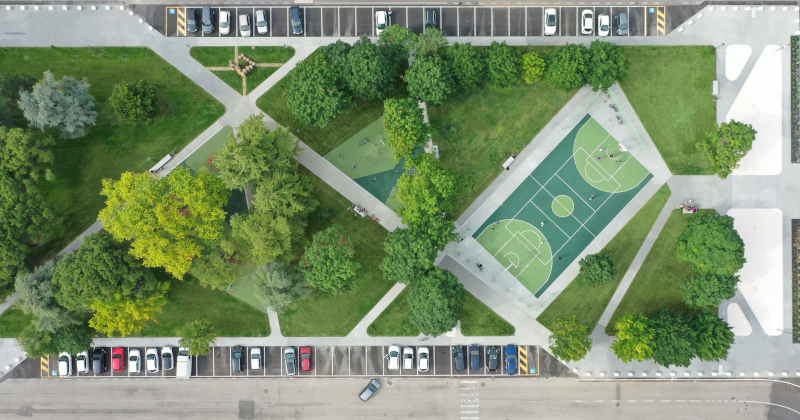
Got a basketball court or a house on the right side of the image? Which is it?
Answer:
basketball court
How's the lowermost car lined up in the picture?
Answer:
diagonally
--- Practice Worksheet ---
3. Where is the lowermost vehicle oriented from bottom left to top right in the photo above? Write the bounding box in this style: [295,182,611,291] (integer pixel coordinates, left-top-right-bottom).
[358,377,381,403]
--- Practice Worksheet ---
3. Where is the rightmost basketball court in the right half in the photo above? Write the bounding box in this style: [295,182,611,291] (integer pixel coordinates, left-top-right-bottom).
[473,115,653,298]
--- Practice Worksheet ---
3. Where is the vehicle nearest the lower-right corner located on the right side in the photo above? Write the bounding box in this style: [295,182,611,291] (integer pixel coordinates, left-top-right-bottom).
[504,344,518,375]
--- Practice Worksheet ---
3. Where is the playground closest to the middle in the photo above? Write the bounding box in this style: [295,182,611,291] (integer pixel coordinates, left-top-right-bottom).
[324,116,434,211]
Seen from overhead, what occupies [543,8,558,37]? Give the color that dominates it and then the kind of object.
white car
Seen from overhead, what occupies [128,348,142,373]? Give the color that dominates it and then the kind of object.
white car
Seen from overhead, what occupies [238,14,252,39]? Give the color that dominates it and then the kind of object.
white vehicle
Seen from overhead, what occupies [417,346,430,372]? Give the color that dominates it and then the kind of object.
white vehicle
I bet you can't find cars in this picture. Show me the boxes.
[284,345,297,376]
[486,345,498,371]
[255,9,269,36]
[375,9,388,36]
[162,345,174,369]
[186,9,199,34]
[250,347,262,370]
[425,8,437,27]
[597,13,610,37]
[358,377,381,403]
[469,343,480,370]
[299,346,311,371]
[145,347,160,372]
[580,9,595,36]
[230,345,244,372]
[111,347,126,372]
[402,346,414,369]
[417,346,430,372]
[383,343,400,370]
[238,14,252,39]
[91,347,107,374]
[128,348,142,373]
[543,8,558,37]
[76,351,91,373]
[504,344,518,375]
[201,6,215,35]
[290,6,303,36]
[58,353,73,376]
[452,344,465,371]
[218,10,232,36]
